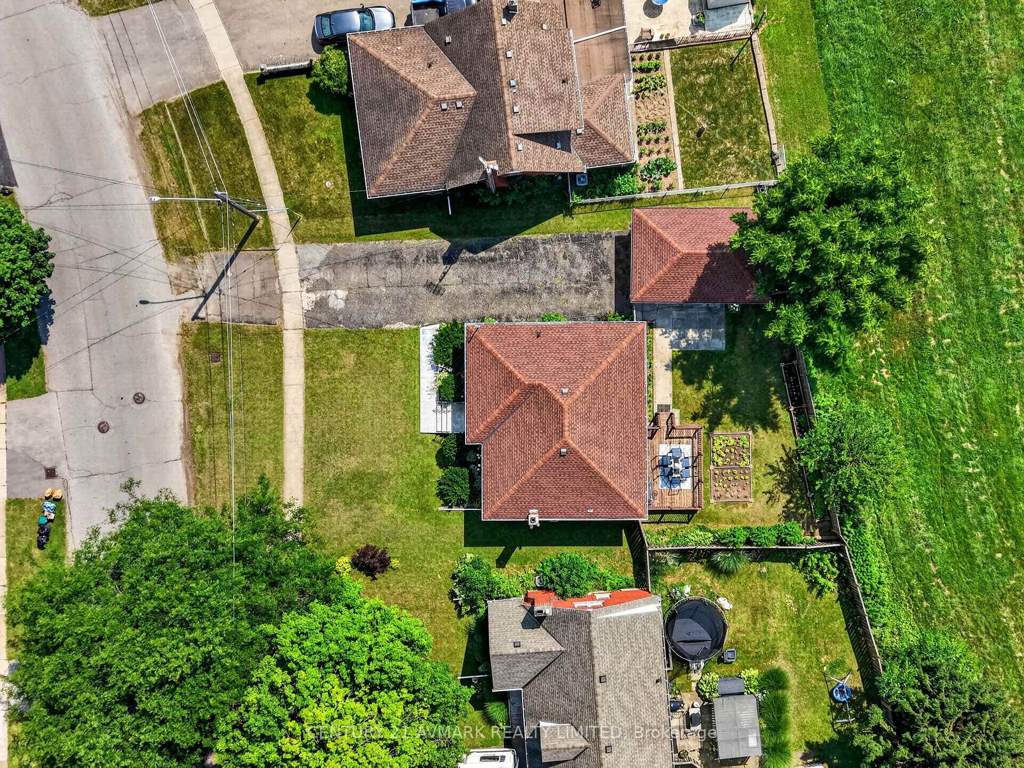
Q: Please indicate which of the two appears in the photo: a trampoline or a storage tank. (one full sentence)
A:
It is a trampoline that can be seen here.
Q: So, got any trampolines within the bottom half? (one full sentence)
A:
Yes, a trampoline shows up within the bottom half.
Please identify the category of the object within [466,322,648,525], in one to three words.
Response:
house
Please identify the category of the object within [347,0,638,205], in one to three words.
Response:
house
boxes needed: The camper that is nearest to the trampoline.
[462,741,518,768]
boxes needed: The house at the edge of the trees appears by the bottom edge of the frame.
[489,585,675,768]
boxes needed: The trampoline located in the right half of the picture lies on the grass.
[668,595,728,662]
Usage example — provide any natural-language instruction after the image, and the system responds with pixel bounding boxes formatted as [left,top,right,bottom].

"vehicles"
[313,5,396,49]
[462,741,518,768]
[408,0,469,26]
